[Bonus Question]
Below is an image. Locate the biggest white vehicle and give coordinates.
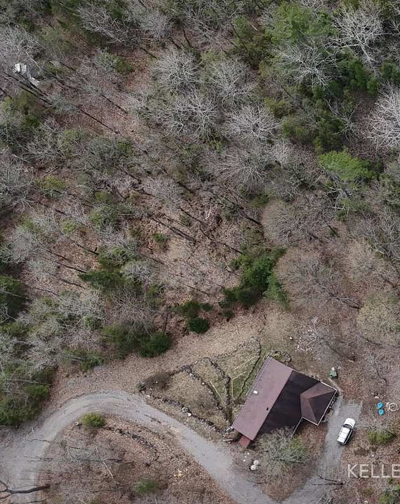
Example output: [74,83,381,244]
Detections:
[332,417,358,449]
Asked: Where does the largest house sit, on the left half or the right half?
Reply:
right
